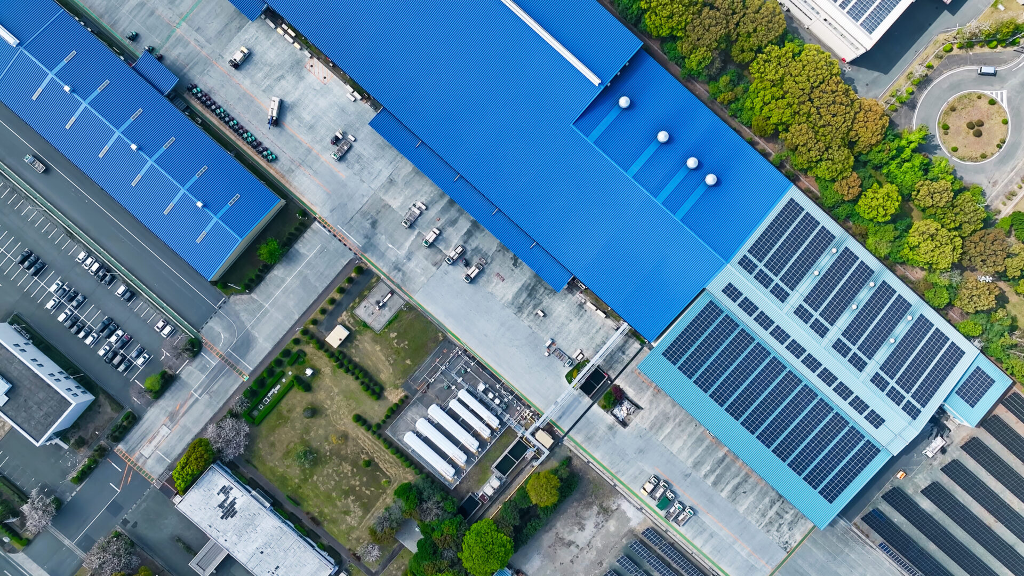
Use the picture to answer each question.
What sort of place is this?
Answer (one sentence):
This image shows an industrial area.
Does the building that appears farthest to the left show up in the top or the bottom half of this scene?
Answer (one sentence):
The bottom half of the photo is where the building that appears farthest to the left is.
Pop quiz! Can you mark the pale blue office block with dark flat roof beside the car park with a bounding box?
[0,317,94,454]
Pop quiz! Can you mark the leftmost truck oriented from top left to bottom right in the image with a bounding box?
[19,151,49,175]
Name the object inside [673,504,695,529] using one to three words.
truck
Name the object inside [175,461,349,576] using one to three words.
building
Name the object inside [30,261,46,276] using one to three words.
car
